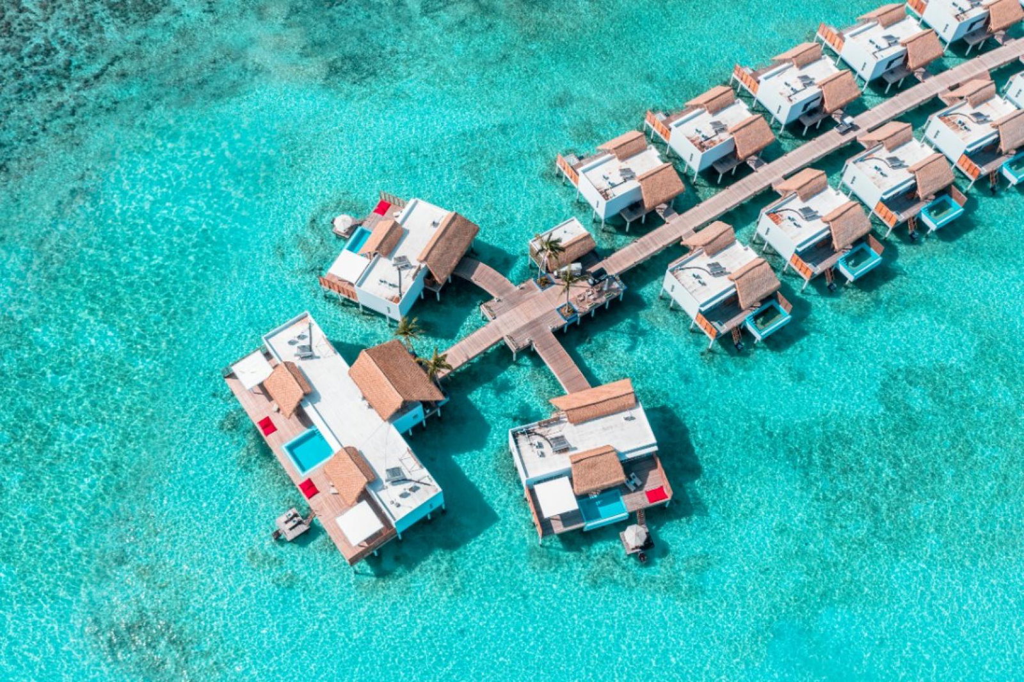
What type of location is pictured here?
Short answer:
residential area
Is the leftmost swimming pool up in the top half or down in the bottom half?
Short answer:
bottom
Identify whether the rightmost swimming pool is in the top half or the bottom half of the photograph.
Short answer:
top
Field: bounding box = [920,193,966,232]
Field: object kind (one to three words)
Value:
swimming pool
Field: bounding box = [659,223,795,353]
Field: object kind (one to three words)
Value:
house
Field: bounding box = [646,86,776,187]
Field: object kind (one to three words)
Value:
house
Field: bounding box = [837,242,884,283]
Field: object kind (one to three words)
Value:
swimming pool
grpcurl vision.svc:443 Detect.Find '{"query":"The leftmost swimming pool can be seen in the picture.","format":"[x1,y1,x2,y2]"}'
[282,426,336,476]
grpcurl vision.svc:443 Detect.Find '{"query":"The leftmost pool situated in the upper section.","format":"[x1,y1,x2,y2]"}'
[339,226,373,257]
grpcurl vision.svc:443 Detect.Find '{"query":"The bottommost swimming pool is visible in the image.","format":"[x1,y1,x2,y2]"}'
[577,489,629,531]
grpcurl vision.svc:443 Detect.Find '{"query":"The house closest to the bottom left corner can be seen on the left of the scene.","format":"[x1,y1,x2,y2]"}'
[220,311,452,573]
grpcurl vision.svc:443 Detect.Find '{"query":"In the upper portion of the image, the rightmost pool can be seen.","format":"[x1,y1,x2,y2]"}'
[1001,150,1024,185]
